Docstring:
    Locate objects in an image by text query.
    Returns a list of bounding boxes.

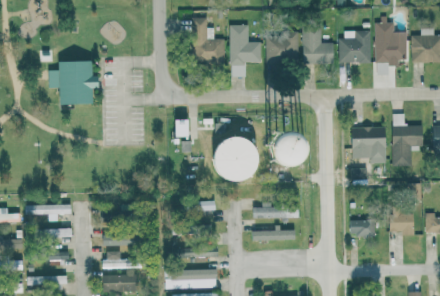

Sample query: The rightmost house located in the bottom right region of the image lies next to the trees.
[426,212,440,234]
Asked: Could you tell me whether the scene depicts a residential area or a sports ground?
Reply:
residential area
